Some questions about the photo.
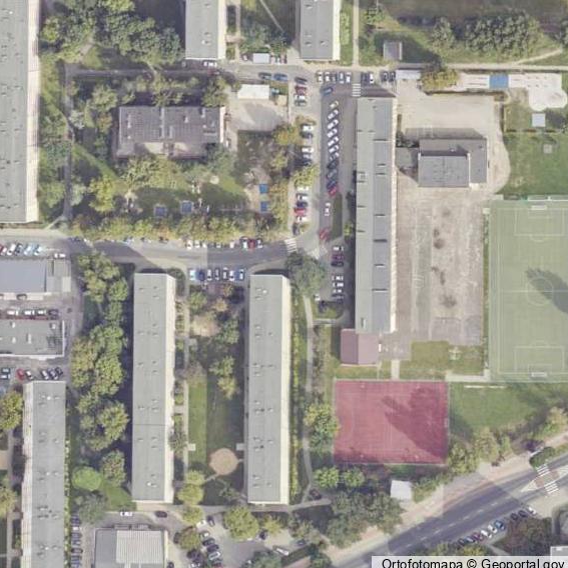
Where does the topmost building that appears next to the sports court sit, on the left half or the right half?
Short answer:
right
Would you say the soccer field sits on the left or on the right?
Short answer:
right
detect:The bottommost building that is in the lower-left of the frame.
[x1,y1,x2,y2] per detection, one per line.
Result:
[95,523,167,568]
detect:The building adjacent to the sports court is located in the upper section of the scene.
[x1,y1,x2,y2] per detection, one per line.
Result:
[356,96,395,333]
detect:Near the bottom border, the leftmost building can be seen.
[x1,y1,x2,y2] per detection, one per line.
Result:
[22,381,66,568]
